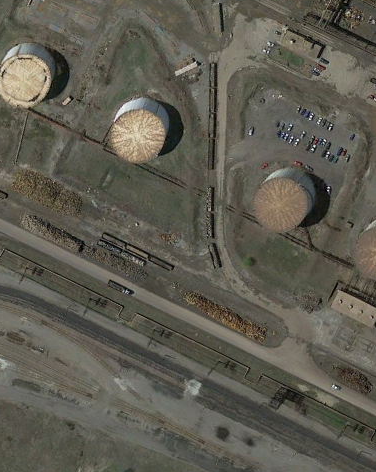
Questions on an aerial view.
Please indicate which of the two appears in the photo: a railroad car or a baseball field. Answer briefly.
railroad car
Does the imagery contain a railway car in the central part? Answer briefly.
Yes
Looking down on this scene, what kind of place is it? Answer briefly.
industrial area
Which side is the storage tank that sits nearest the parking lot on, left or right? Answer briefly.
right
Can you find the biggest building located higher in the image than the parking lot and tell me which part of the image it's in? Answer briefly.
top right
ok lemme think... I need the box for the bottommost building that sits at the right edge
[332,287,376,327]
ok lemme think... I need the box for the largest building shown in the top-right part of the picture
[277,28,324,59]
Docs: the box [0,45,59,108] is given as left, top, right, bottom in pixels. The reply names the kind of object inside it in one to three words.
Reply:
storage tank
